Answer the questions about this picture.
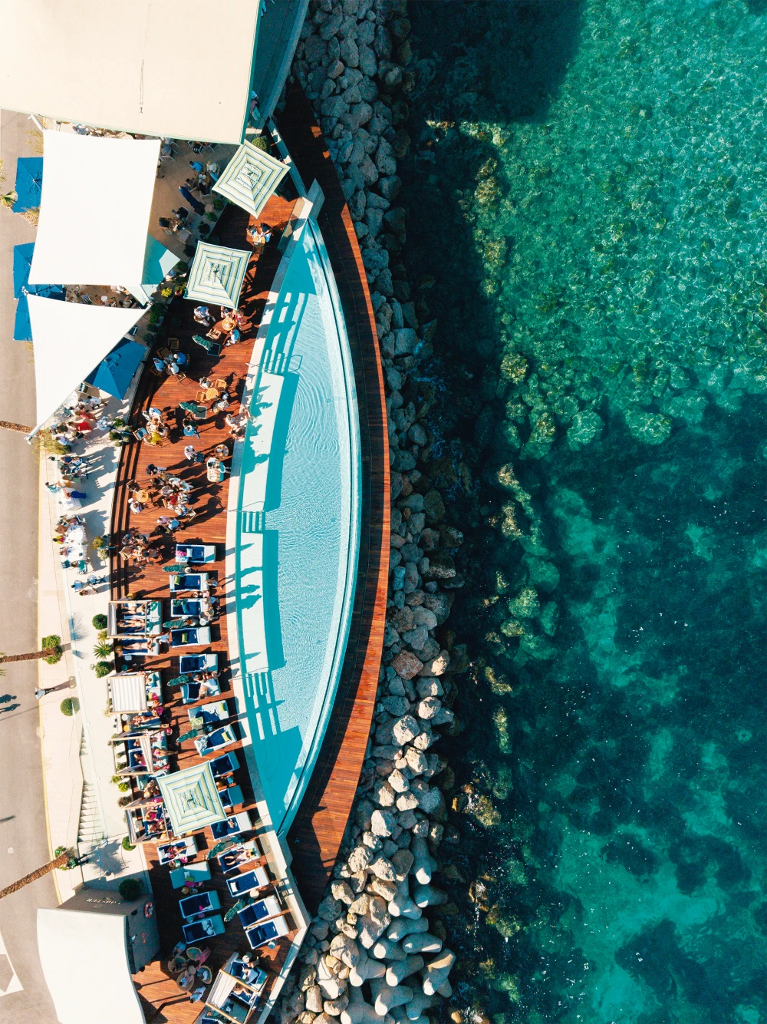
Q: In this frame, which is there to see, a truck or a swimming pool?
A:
swimming pool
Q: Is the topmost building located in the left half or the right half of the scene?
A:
left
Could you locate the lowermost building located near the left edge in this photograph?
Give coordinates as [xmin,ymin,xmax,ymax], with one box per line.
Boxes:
[37,885,161,1024]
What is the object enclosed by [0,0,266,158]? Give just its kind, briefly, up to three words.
building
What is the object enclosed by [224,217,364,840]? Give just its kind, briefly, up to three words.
swimming pool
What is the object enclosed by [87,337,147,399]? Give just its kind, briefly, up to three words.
umbrella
